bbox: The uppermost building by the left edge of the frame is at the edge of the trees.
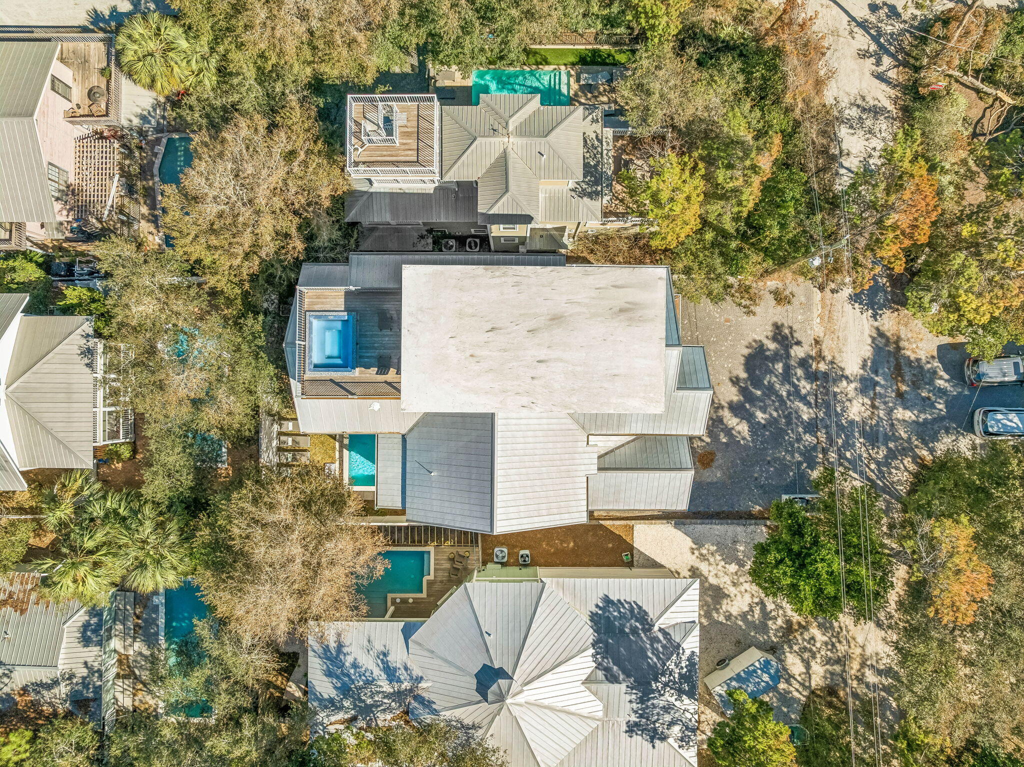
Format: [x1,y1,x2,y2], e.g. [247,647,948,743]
[0,32,163,262]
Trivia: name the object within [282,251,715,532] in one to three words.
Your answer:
house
